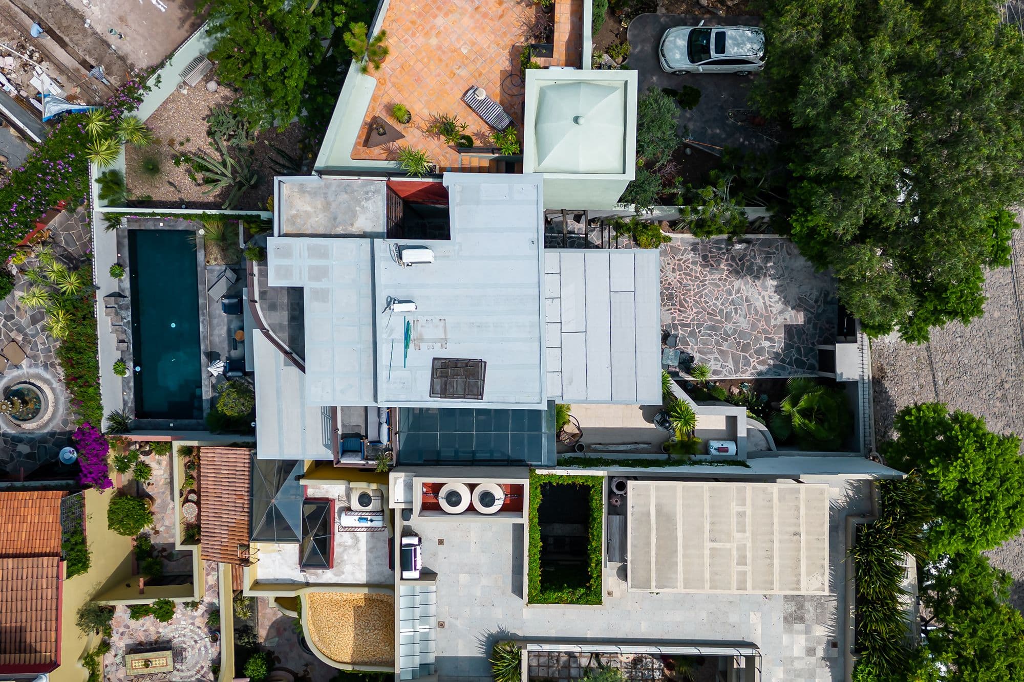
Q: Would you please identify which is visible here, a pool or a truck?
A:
pool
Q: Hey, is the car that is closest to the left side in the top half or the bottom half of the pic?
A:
top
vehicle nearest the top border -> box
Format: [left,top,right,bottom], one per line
[660,19,770,78]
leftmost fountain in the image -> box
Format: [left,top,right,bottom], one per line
[0,359,66,447]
